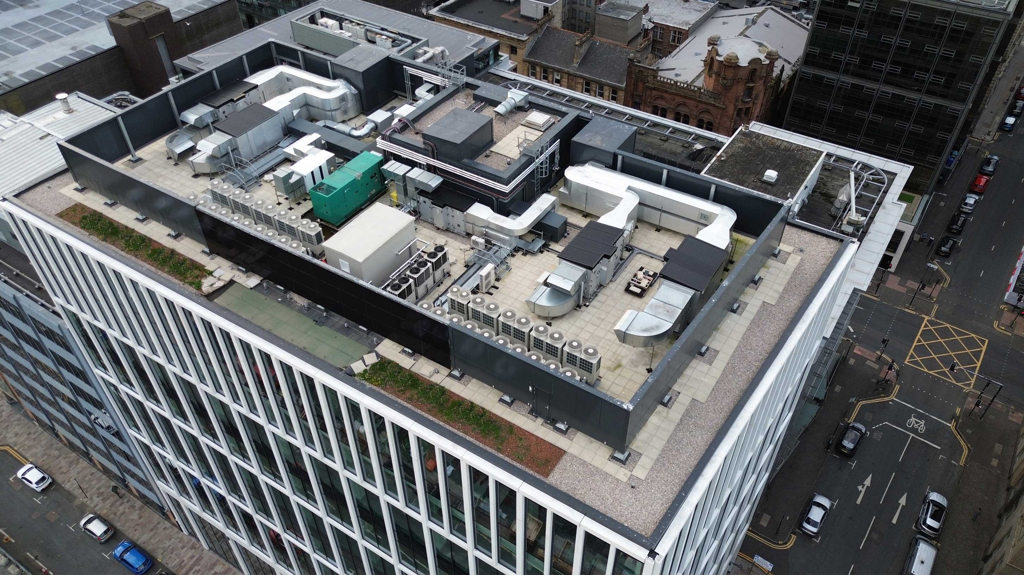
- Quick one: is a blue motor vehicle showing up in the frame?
Yes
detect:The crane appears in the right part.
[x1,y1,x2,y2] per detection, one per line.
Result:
[820,172,862,239]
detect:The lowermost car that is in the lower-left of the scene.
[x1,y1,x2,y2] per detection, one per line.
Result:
[109,537,153,575]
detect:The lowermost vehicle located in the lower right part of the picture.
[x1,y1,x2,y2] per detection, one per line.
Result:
[900,537,936,575]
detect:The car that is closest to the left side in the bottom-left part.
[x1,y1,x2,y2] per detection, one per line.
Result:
[15,461,53,493]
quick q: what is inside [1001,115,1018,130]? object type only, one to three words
car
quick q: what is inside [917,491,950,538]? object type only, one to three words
car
